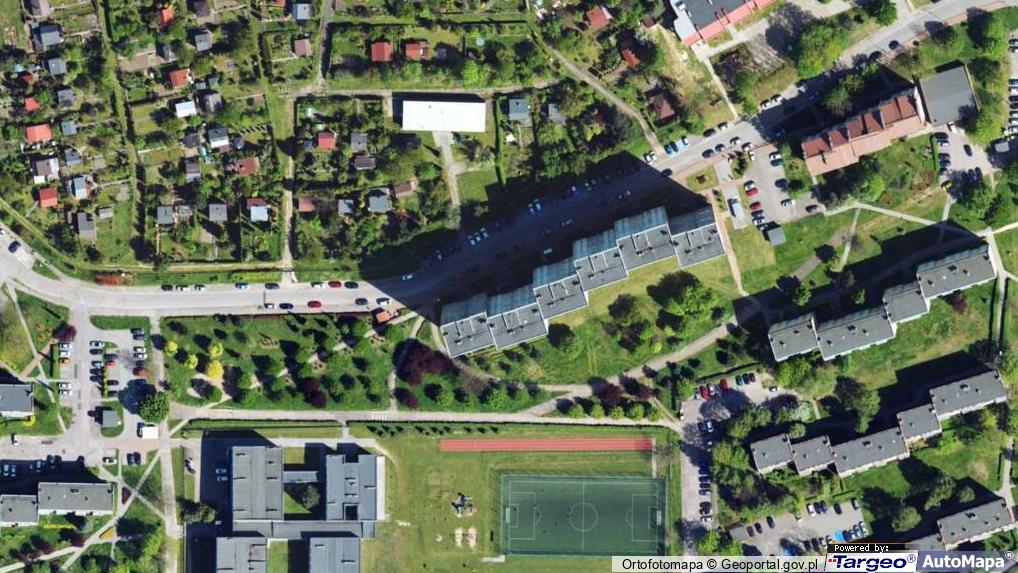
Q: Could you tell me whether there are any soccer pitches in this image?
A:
Yes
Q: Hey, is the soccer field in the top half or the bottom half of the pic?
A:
bottom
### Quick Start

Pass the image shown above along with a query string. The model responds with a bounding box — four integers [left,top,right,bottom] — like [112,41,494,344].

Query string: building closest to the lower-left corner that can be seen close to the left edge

[0,477,115,525]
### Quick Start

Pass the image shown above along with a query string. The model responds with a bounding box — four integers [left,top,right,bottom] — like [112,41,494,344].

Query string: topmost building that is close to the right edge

[919,62,979,125]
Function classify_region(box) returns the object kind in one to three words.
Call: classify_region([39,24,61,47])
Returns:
shed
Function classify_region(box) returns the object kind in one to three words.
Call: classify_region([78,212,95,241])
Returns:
shed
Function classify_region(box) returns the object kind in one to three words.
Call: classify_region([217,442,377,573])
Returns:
building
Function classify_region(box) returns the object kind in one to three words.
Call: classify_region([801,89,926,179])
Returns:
house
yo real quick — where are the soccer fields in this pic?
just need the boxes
[501,476,666,556]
